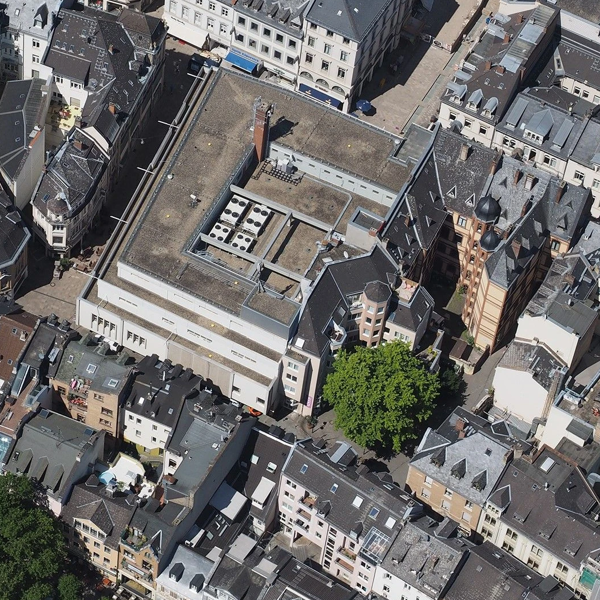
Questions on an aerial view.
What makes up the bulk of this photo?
buildings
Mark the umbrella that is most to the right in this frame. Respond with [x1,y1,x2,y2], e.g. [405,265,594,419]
[358,102,374,116]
